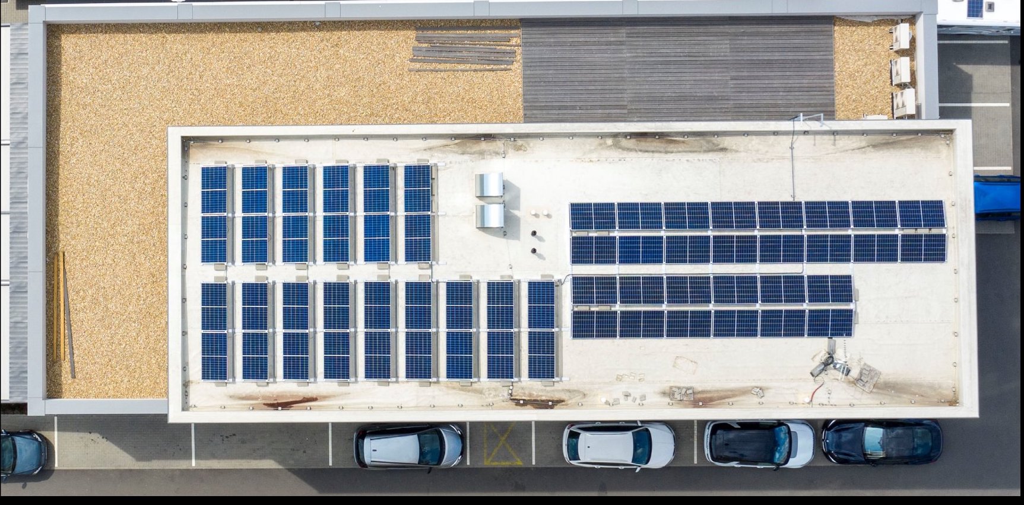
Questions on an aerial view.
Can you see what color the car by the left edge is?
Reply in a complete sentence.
The car by the left edge looks blue in the image.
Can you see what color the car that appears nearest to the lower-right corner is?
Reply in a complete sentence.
In this view, the car that appears nearest to the lower-right corner is black.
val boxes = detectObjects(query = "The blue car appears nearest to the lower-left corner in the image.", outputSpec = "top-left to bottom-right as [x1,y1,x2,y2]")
[0,425,47,483]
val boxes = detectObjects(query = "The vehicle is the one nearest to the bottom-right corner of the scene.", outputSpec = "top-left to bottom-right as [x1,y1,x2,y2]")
[822,419,944,473]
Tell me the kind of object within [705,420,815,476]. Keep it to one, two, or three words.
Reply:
car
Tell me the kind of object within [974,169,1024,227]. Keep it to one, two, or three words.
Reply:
car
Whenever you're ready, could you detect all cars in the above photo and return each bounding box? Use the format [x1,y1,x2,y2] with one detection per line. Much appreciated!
[0,425,47,483]
[822,419,944,473]
[354,422,464,476]
[563,421,675,477]
[705,420,815,476]
[974,169,1024,227]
